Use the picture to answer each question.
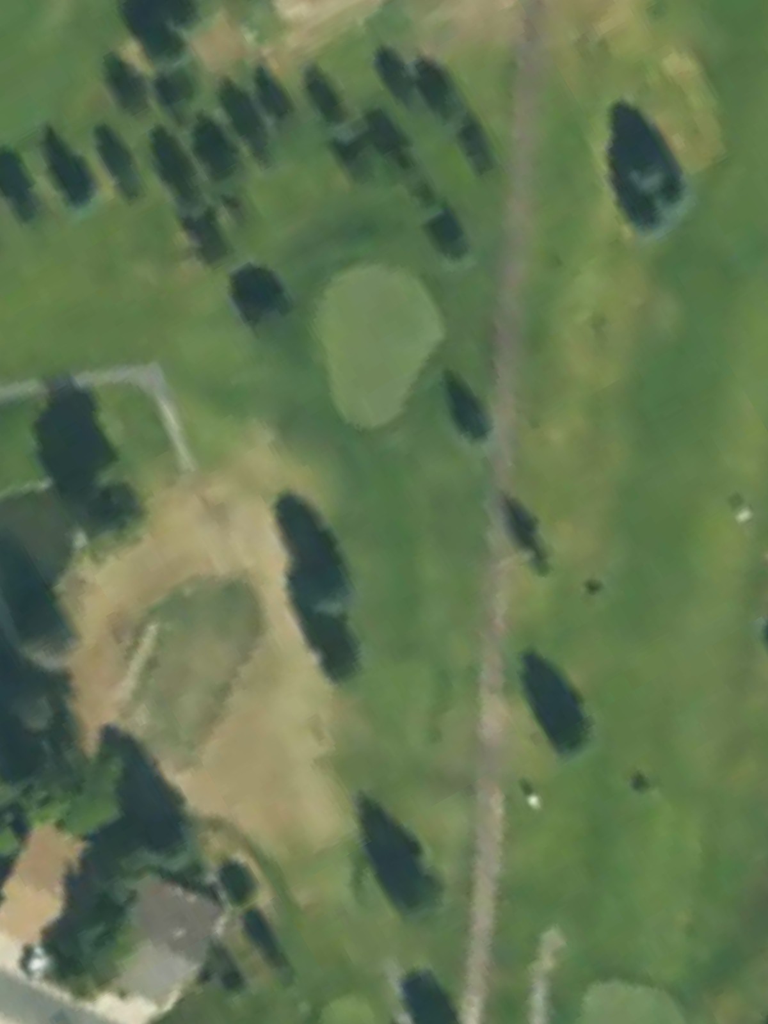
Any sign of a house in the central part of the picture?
No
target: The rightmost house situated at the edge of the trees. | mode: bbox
[107,873,222,1012]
